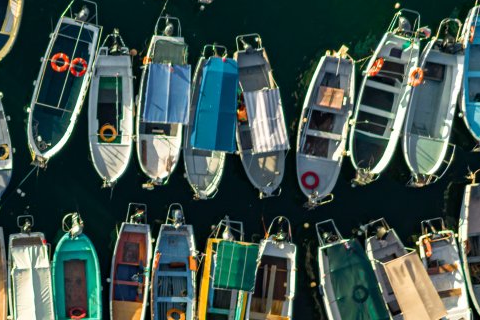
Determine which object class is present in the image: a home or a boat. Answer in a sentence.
Visible in the photo is a boat.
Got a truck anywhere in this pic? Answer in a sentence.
No, the scene contains no truck.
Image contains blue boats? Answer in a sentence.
Yes, you can see a blue boat in this photo.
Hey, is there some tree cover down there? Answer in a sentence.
No, there is no tree cover in the image.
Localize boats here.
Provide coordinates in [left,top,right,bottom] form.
[28,0,102,166]
[364,215,451,320]
[109,202,153,320]
[0,227,8,320]
[150,202,198,320]
[140,16,191,188]
[87,28,135,188]
[461,166,480,315]
[0,98,14,199]
[251,215,301,320]
[234,30,291,199]
[400,18,465,189]
[9,211,54,320]
[201,217,262,320]
[49,213,102,320]
[184,35,239,204]
[296,55,355,205]
[316,219,391,320]
[418,214,477,320]
[351,8,421,182]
